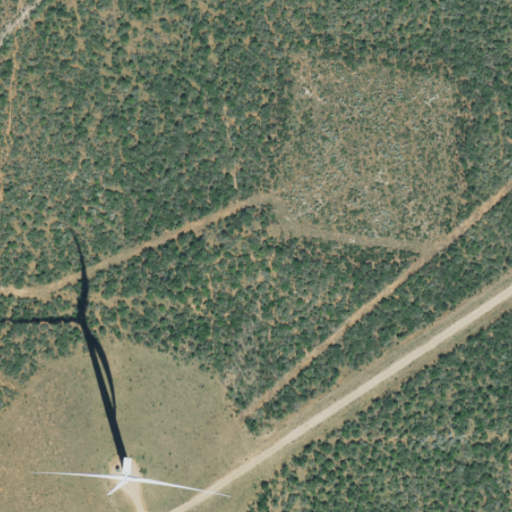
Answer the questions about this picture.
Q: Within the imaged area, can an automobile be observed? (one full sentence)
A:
No, I find no automobile anywhere in the image.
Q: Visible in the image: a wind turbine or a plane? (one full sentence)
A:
This aerial view contains a wind turbine.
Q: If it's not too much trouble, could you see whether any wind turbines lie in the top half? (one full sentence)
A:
No, the scene shows no wind turbine in the top half.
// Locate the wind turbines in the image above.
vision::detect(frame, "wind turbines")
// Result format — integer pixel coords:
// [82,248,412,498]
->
[40,457,228,494]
